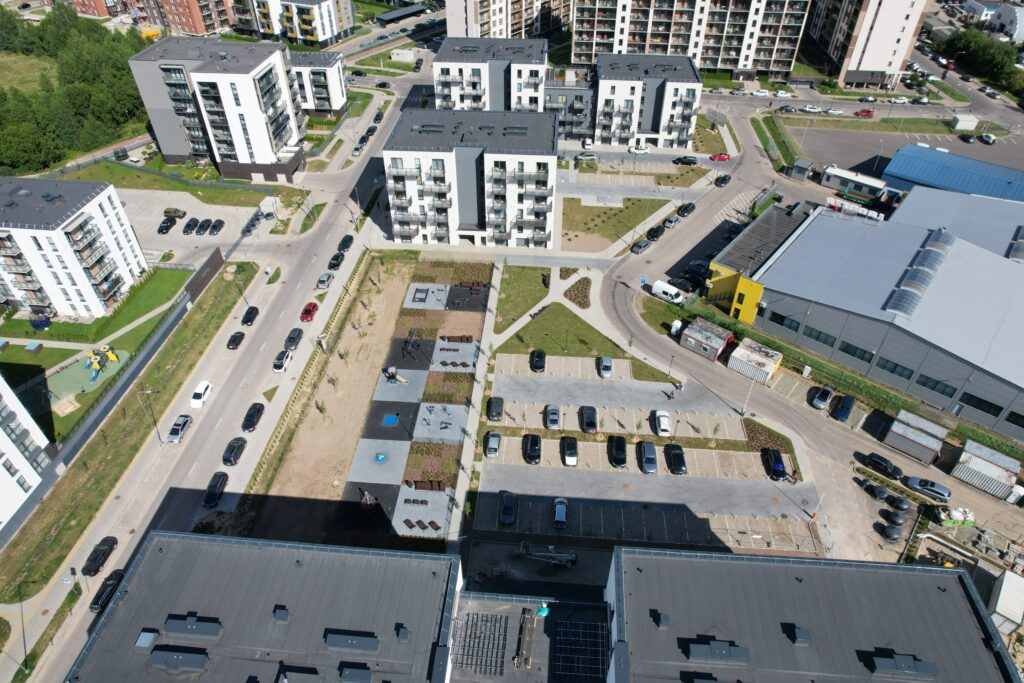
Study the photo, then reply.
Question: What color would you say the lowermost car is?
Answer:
black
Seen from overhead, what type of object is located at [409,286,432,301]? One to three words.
trampoline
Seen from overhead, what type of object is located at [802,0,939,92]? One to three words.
building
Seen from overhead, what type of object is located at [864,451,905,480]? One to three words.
car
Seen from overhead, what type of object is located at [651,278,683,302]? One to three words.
vehicle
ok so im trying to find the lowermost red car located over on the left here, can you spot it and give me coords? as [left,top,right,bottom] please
[300,303,318,322]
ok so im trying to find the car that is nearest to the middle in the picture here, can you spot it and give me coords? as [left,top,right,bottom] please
[531,351,545,373]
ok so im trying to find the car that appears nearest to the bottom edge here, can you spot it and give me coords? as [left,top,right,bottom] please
[88,569,126,613]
